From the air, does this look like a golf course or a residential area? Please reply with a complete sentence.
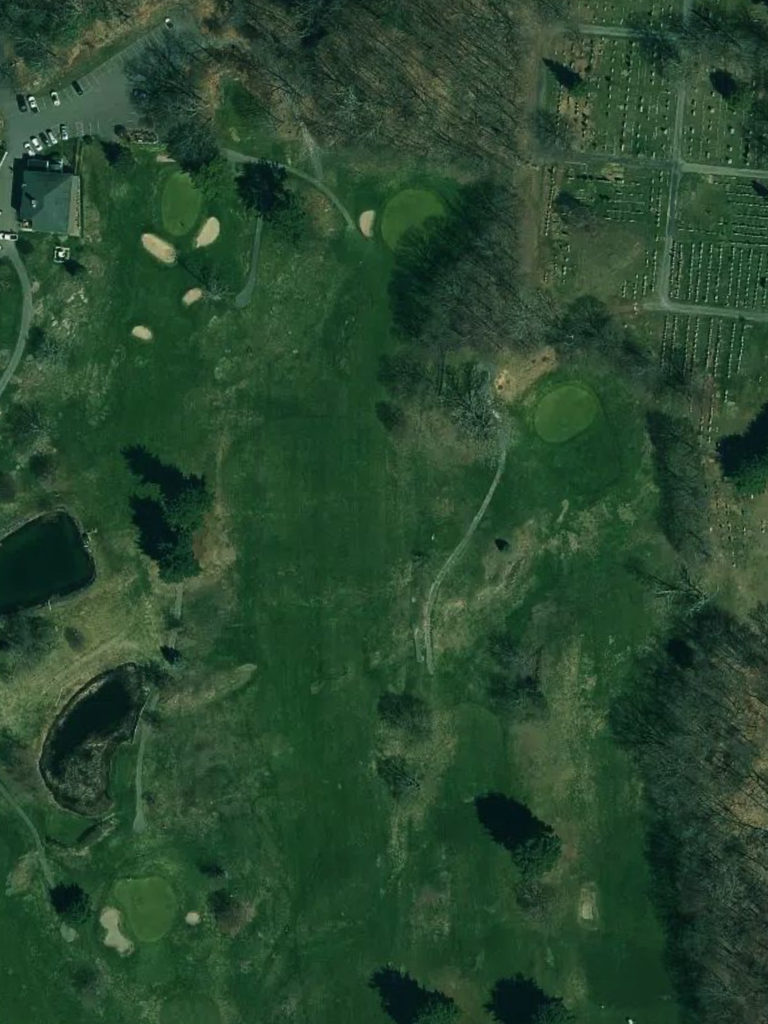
What you see here is a golf course.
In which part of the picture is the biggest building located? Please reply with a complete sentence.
Look in the top left portion of the view to spot the biggest building.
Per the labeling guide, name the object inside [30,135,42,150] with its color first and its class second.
white vehicle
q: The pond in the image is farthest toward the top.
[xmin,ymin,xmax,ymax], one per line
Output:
[0,514,93,612]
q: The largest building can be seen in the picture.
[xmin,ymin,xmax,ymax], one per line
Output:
[19,168,81,233]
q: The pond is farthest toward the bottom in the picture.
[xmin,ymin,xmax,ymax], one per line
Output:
[46,672,136,778]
